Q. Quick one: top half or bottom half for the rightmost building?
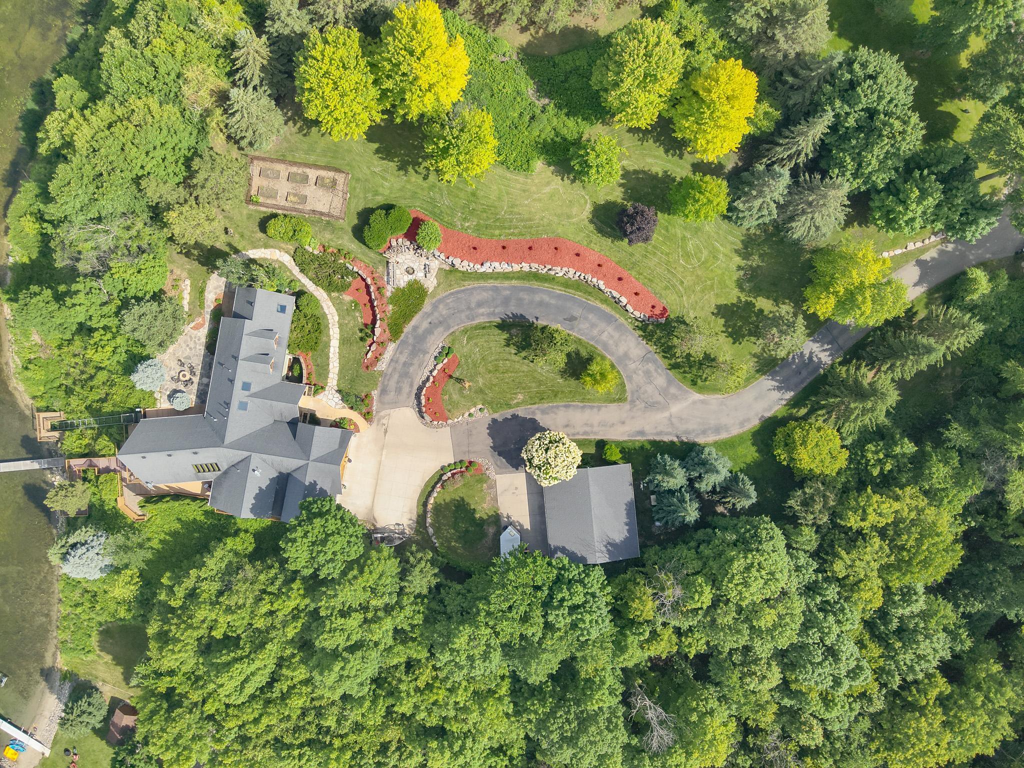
bottom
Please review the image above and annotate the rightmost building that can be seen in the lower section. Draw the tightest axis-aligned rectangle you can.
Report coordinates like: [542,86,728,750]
[541,463,640,565]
